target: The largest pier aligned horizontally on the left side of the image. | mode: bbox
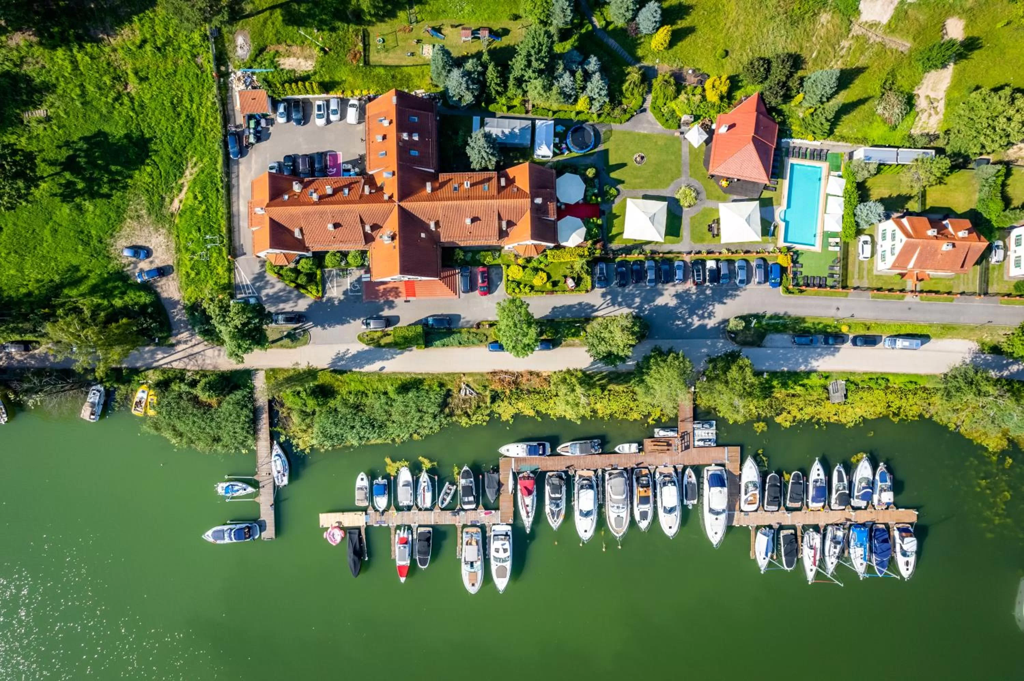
[319,510,500,528]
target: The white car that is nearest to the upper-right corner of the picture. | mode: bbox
[988,237,1007,267]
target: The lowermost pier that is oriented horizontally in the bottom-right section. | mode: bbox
[733,509,917,526]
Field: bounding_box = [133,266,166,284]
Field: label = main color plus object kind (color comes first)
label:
blue car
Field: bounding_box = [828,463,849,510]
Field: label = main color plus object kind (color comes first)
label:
white boat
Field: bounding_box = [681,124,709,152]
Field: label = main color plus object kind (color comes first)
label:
white tent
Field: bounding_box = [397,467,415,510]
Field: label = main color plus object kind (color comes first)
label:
white boat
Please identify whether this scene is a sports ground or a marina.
marina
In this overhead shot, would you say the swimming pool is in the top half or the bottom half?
top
